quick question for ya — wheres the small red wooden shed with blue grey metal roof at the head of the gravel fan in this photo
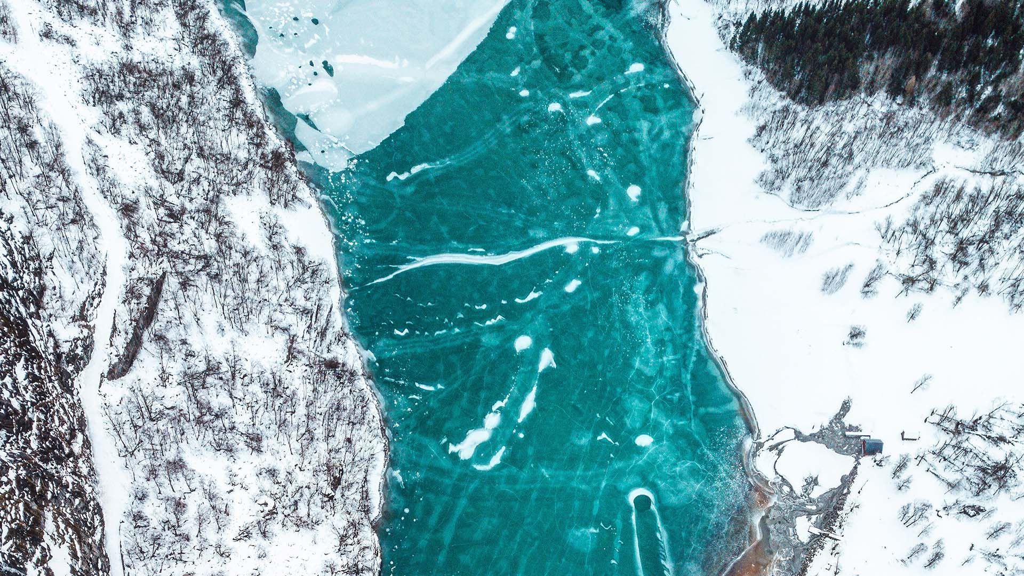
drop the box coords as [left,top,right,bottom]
[861,438,887,457]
